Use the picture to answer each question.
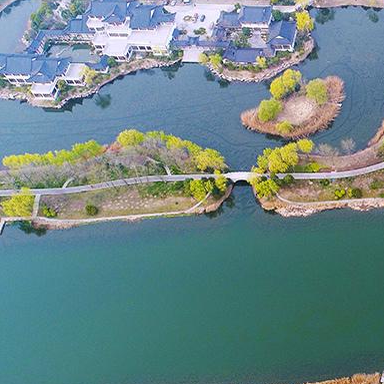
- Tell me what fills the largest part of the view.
water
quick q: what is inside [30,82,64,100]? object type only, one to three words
building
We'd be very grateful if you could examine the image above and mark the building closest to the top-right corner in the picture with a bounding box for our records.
[268,22,300,55]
